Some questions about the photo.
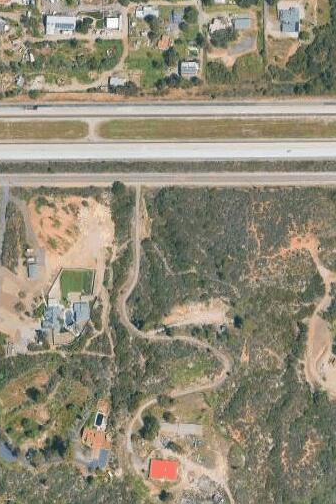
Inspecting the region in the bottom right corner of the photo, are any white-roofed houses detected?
No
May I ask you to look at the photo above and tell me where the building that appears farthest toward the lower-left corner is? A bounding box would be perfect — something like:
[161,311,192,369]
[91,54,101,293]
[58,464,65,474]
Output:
[83,430,111,455]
